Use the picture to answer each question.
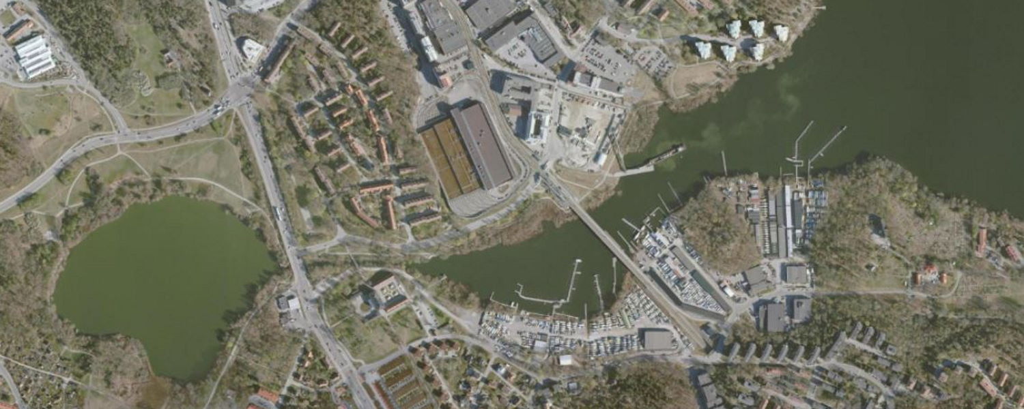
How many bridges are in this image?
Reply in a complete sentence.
My tally gives 1 bridge in this photo.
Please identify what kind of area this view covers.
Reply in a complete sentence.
The area seen from above is a port.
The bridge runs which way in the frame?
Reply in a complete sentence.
From this overhead view, the bridge appears to run at an angle.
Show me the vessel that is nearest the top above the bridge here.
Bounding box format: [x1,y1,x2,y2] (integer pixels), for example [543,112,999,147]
[640,146,684,169]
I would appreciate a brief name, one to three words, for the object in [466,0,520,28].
building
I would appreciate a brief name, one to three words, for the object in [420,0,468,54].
building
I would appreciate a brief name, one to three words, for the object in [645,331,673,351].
shed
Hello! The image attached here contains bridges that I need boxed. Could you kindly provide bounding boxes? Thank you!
[537,169,711,352]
